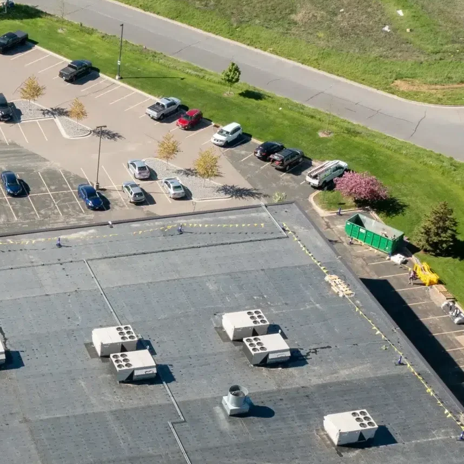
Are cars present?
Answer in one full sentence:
Yes, looking at the shot, I can spot a car.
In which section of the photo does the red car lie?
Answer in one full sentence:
The red car sits in the top section of the image.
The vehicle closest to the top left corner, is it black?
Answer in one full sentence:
Yes, the vehicle closest to the top left corner appears black.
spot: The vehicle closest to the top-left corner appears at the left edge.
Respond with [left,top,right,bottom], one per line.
[0,31,28,51]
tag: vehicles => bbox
[160,179,188,202]
[210,121,245,146]
[121,183,148,207]
[0,31,28,51]
[174,106,206,130]
[253,143,285,162]
[0,93,13,119]
[125,161,153,183]
[58,56,94,81]
[144,98,182,120]
[306,162,345,187]
[77,187,104,211]
[0,174,23,199]
[269,149,306,171]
